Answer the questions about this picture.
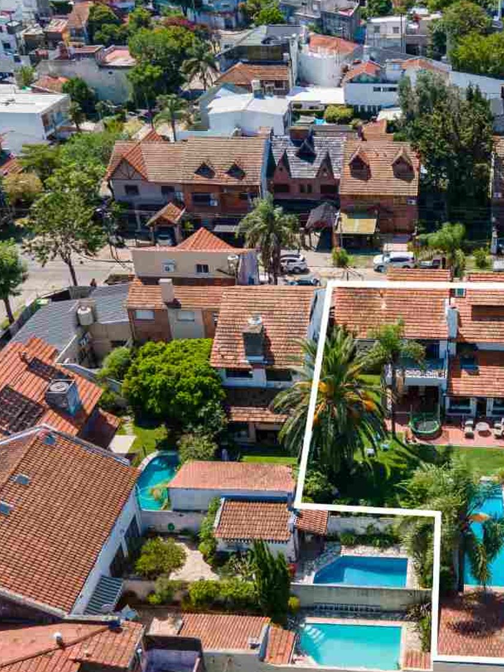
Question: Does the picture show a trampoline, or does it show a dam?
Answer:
trampoline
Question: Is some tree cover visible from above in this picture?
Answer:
Yes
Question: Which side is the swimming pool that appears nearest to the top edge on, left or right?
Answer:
left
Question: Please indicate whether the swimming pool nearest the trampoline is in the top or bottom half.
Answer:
bottom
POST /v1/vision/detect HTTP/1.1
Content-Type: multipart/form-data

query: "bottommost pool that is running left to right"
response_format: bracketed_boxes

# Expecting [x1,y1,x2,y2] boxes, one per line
[297,623,403,667]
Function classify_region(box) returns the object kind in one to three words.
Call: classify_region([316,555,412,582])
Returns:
swimming pool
